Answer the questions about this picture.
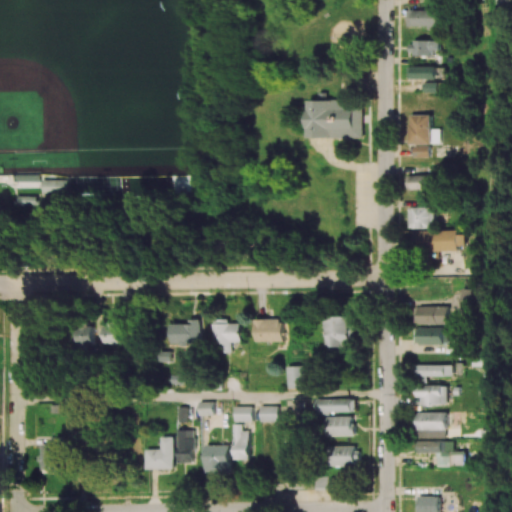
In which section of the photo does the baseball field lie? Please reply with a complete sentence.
The baseball field is located in the top left region of the scene.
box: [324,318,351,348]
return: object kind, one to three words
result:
house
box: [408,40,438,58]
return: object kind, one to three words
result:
house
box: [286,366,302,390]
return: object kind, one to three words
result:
building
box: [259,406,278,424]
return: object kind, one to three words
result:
building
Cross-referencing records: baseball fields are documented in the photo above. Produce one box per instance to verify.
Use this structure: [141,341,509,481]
[0,0,192,176]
